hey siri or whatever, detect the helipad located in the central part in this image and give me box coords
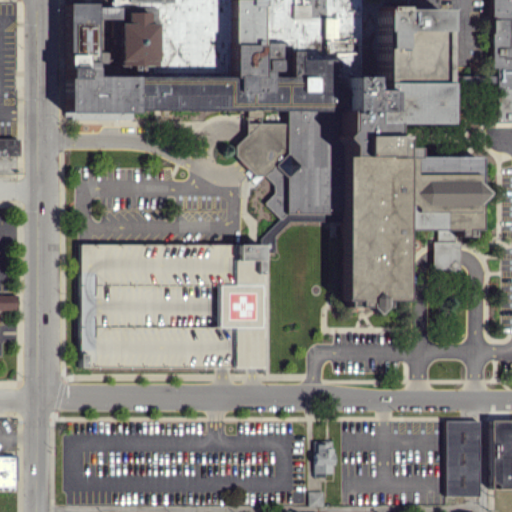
[218,284,266,330]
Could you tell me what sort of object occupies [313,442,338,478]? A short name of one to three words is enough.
house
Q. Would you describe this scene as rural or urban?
urban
